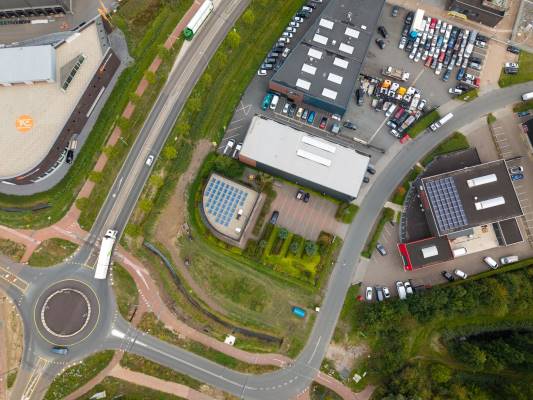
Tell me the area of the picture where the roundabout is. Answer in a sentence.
The roundabout sits in the bottom left section of the image.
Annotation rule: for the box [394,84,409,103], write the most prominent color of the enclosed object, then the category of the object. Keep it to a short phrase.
yellow vehicle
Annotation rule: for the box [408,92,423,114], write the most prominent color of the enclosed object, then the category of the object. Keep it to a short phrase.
white vehicle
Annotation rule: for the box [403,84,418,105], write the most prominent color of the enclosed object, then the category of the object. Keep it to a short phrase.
white vehicle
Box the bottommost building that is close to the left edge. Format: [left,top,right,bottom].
[0,15,120,189]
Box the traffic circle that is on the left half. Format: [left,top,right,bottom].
[23,269,110,358]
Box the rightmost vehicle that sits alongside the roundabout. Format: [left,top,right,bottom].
[98,227,122,280]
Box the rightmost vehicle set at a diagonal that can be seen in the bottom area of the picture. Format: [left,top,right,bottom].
[483,254,499,270]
